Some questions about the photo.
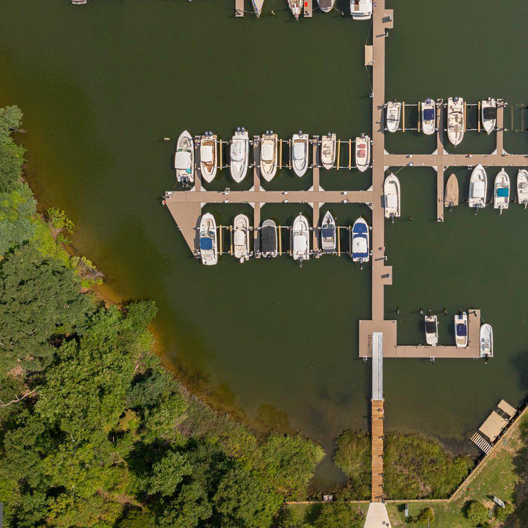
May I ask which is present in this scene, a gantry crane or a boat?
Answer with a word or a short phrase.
boat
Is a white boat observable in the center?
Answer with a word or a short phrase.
Yes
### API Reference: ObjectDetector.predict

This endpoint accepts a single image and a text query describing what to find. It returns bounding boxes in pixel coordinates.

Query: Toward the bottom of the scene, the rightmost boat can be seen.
[479,324,493,366]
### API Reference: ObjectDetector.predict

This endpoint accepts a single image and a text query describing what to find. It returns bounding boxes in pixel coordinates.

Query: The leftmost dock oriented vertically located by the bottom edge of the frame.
[370,398,384,503]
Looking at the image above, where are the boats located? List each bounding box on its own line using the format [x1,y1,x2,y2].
[173,130,195,191]
[352,217,369,270]
[200,213,218,265]
[261,219,278,261]
[481,96,497,135]
[292,213,310,270]
[454,312,468,348]
[494,169,510,218]
[286,0,302,21]
[445,174,459,215]
[230,130,249,182]
[350,0,372,22]
[421,98,436,135]
[292,130,309,177]
[468,165,488,217]
[479,324,493,366]
[425,304,438,345]
[321,131,336,170]
[201,131,217,182]
[261,130,278,182]
[448,94,464,149]
[384,175,401,228]
[321,210,336,252]
[317,0,335,13]
[386,98,401,133]
[355,126,370,172]
[516,170,528,213]
[232,214,250,261]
